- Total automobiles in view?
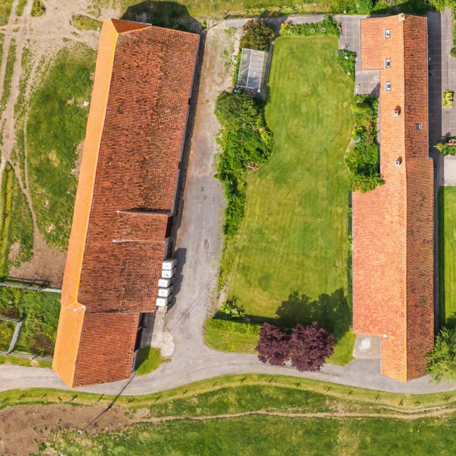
0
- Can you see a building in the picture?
Yes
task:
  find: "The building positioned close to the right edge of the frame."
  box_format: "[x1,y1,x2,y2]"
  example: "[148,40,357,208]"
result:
[351,14,436,382]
